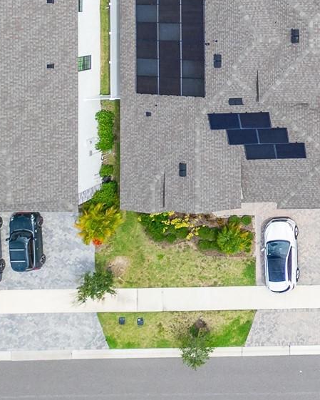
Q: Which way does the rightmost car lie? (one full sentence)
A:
Seen from above, the rightmost car lies up and down.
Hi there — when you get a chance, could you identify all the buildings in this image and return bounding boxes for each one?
[120,0,320,213]
[0,0,101,212]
